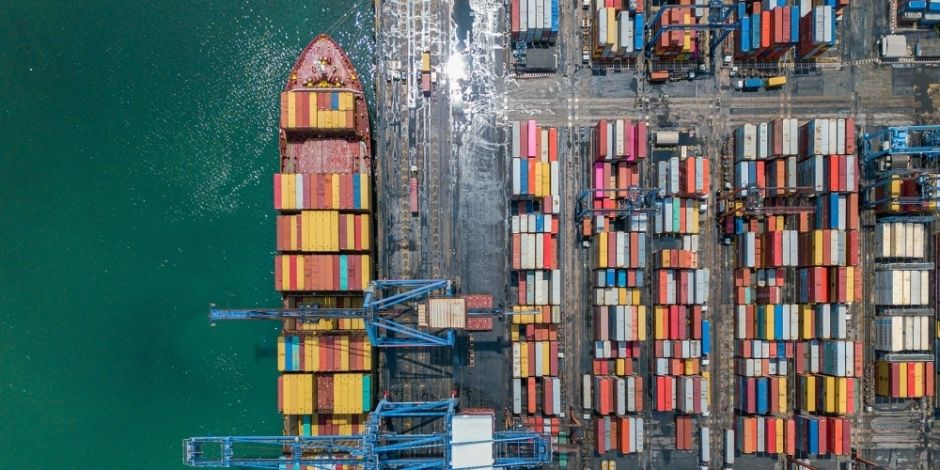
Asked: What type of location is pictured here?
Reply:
port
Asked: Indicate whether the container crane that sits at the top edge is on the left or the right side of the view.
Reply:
right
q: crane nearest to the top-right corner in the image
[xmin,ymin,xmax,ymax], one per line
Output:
[862,125,940,167]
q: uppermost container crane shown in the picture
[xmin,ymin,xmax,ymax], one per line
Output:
[645,2,738,54]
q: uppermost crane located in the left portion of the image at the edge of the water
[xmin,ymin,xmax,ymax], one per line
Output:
[205,274,546,352]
